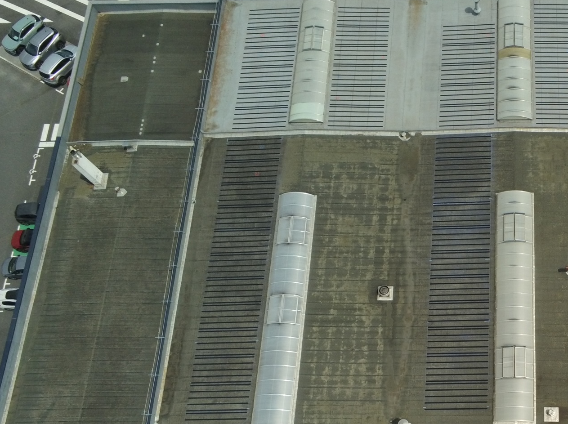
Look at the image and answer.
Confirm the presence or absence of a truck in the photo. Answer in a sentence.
No, no truck can be seen from above.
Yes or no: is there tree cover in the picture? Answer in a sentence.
No, there's no tree cover in this view.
